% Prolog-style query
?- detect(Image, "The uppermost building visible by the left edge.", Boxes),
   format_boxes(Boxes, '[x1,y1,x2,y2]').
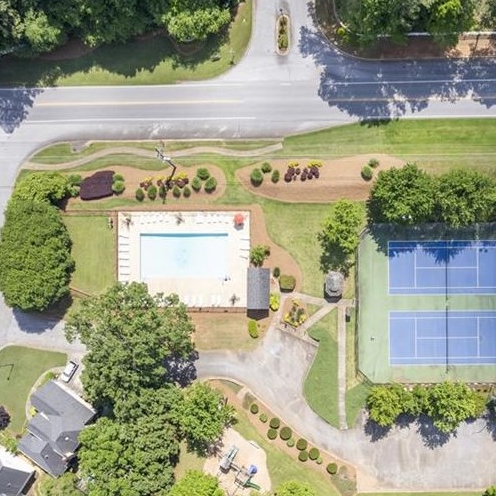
[17,380,101,471]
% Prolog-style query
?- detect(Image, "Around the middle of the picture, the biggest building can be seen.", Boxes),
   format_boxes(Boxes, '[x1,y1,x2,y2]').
[247,267,268,309]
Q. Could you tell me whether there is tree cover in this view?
Yes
